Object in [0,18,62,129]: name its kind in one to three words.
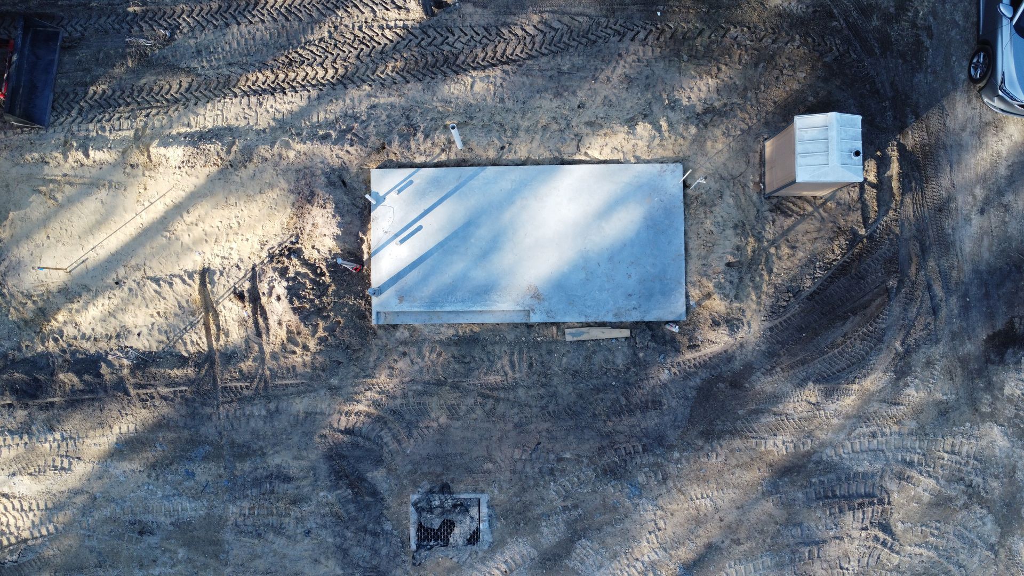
work vehicle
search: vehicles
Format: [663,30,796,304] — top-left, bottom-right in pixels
[0,18,62,129]
[972,0,1024,121]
